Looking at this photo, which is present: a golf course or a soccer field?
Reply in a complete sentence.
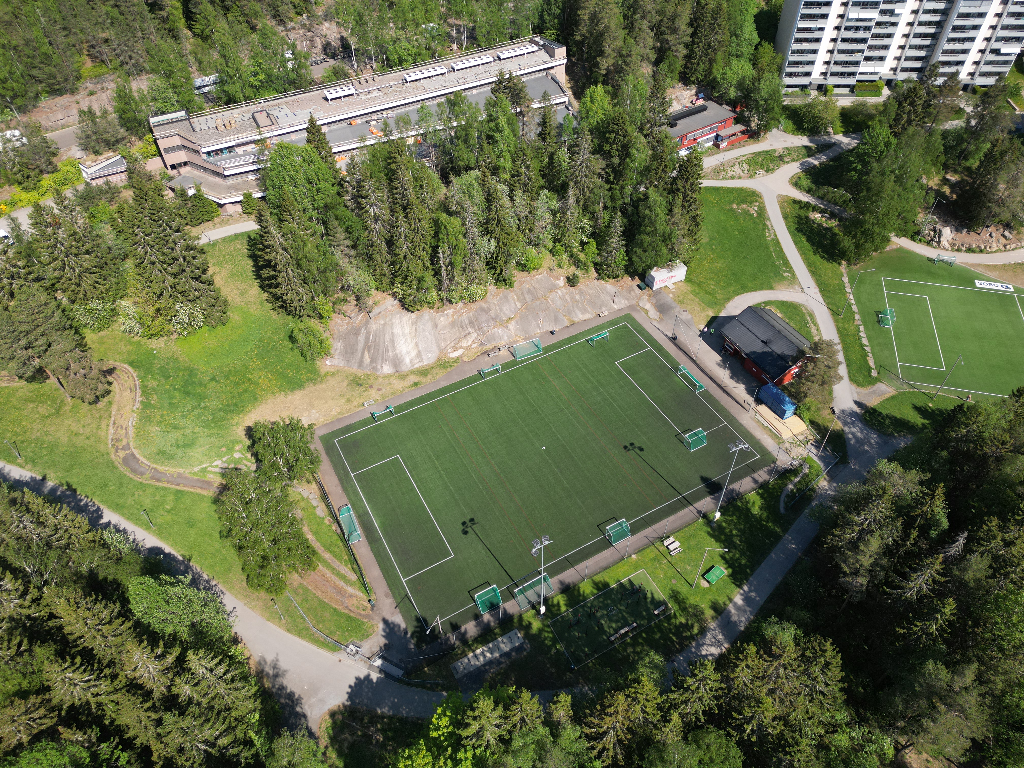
The image shows a soccer field.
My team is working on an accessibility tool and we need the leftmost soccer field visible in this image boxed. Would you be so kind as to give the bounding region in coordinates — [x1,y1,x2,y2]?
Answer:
[319,313,777,650]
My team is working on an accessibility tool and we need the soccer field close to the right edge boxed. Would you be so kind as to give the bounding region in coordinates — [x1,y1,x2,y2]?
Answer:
[848,247,1024,406]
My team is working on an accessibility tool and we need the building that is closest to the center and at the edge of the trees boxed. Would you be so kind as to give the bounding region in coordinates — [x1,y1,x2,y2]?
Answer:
[649,264,687,292]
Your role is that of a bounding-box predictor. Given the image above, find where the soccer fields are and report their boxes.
[319,313,777,650]
[848,247,1024,406]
